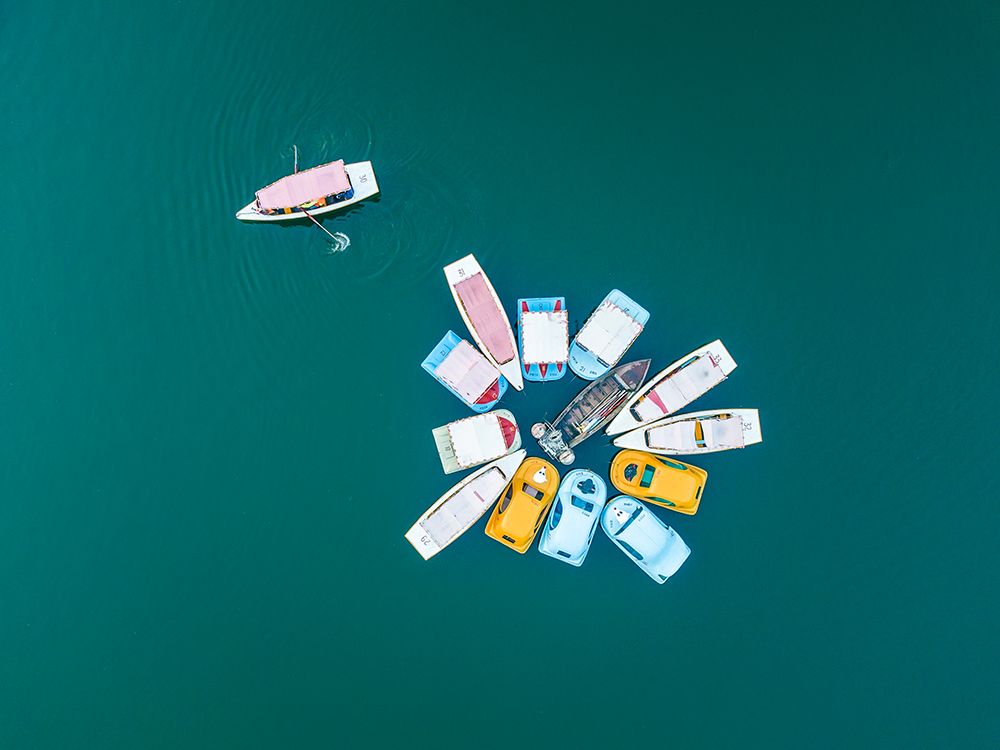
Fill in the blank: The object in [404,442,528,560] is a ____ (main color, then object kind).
white boat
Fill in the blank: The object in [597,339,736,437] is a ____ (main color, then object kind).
white boat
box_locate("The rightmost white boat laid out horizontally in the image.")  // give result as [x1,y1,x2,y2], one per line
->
[602,408,762,454]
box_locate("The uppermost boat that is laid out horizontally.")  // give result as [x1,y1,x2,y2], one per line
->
[235,159,380,220]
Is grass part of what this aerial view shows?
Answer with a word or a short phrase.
No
